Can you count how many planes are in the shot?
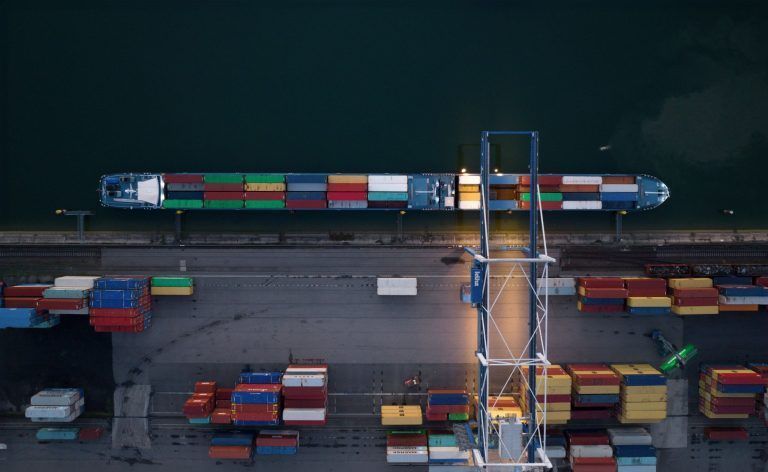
none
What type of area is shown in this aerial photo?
port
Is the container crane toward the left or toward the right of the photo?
right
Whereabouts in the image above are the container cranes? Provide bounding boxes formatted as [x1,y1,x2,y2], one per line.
[450,130,561,470]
